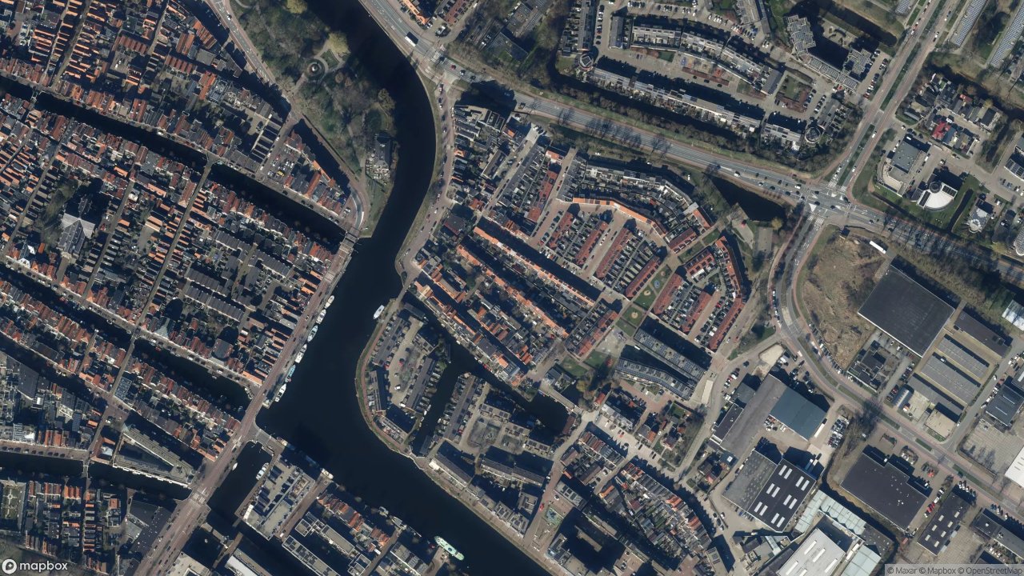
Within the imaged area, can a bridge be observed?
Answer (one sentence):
Yes, you can see a bridge in this photo.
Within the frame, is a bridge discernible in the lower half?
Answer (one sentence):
Yes, a bridge shows up in the lower half.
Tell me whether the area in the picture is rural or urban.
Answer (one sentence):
The area is urban.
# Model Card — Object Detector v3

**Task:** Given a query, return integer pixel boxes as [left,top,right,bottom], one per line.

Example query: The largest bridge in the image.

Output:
[168,454,219,517]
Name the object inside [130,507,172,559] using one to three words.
building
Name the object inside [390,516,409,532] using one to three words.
vessel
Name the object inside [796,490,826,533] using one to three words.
greenhouse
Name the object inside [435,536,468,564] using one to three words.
vessel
